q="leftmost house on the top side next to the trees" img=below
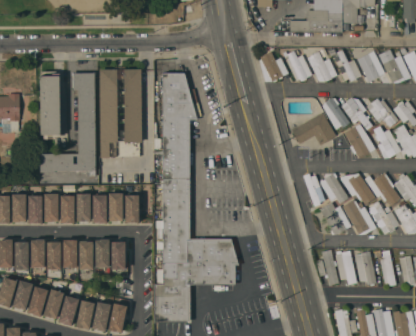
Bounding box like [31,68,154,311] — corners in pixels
[0,86,21,124]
